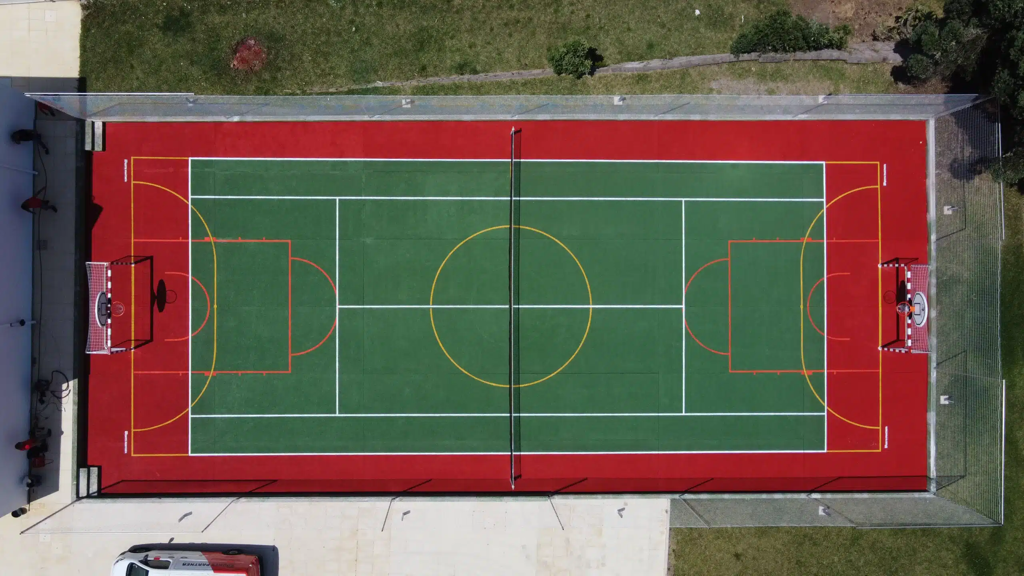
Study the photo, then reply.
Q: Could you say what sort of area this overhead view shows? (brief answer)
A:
sports ground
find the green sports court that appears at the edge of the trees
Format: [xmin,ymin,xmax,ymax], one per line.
[84,119,927,496]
